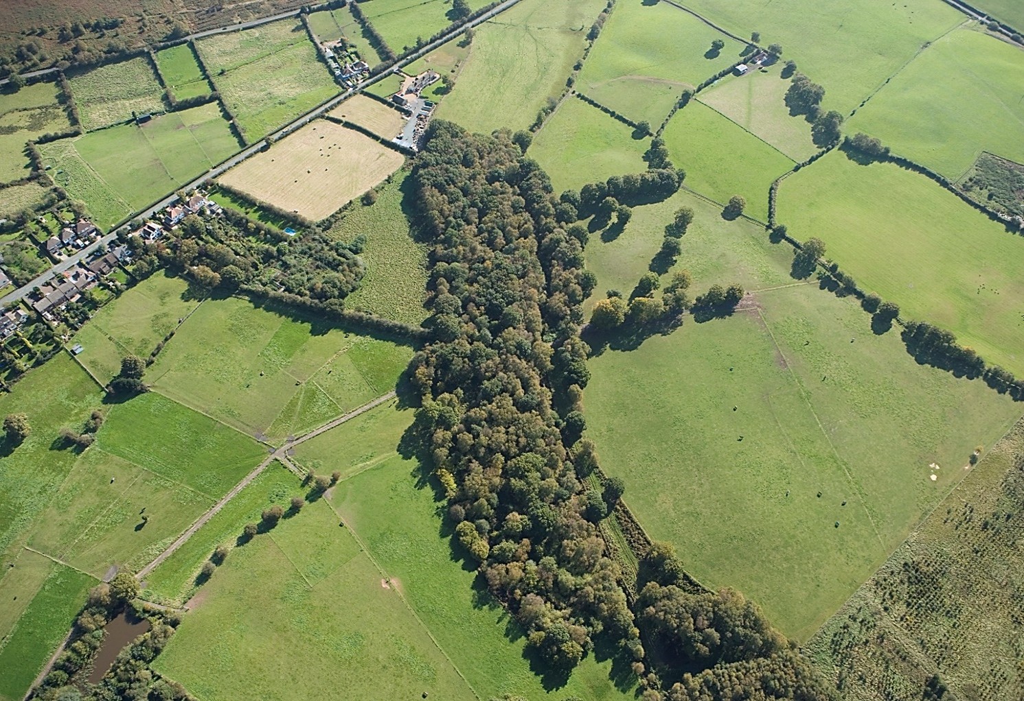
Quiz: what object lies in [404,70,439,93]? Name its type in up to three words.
house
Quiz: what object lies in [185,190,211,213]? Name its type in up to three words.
house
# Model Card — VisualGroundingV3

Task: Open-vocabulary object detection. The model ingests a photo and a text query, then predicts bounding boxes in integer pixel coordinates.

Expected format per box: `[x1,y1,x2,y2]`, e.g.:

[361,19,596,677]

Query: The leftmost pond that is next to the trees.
[90,607,151,684]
